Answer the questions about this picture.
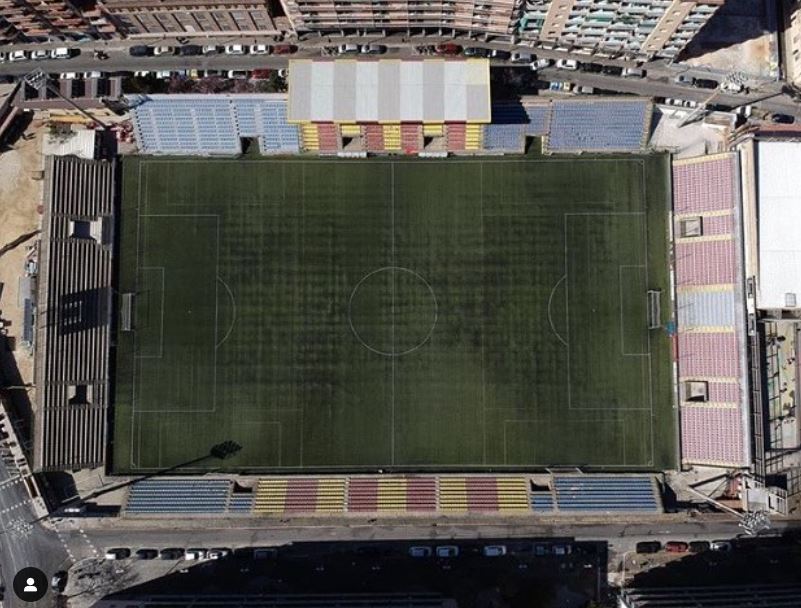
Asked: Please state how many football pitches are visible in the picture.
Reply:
1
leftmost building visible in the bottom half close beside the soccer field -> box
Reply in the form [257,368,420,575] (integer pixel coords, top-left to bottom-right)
[0,347,63,524]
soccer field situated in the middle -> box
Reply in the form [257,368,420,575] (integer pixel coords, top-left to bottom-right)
[107,133,681,474]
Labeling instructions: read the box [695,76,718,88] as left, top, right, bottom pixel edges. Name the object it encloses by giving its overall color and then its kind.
black vehicle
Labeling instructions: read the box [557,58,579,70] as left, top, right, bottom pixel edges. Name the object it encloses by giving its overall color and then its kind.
white vehicle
